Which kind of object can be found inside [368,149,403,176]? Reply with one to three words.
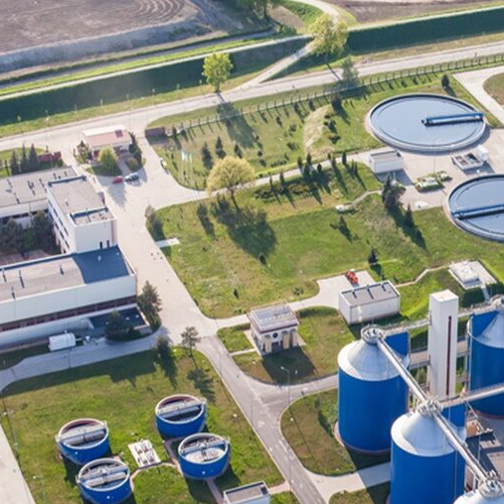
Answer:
shed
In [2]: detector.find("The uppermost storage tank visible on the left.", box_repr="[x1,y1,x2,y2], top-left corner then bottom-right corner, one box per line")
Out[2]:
[154,393,210,442]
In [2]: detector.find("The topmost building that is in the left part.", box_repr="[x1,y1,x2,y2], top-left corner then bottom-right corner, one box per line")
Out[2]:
[80,125,133,162]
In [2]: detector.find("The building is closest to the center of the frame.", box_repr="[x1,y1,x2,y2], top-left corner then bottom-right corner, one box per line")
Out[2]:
[246,301,303,354]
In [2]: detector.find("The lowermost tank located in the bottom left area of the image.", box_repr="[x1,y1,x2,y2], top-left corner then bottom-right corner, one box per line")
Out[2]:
[74,459,135,504]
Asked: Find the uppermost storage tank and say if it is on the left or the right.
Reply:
right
